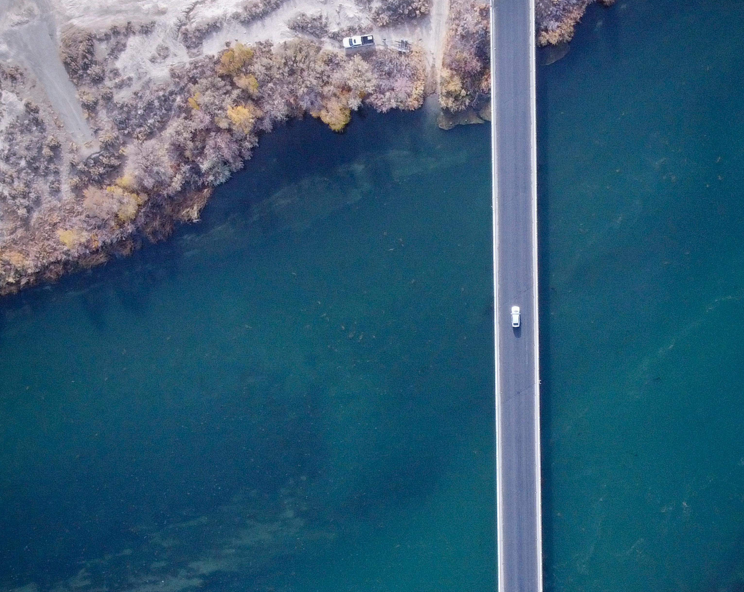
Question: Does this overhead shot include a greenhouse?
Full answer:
No, I can't see a single greenhouse in this photo.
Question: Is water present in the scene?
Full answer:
Yes, water can be seen from above here.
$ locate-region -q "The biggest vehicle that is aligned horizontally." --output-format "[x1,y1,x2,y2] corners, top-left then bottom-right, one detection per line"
[344,35,374,48]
